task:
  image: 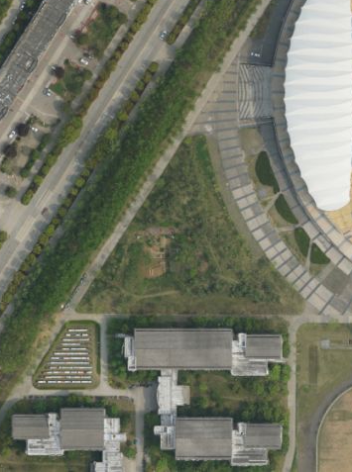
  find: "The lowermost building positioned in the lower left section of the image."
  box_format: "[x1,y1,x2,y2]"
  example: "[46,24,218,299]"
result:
[10,408,126,472]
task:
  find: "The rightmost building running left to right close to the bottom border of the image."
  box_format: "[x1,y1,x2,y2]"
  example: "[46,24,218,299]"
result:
[154,418,282,467]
